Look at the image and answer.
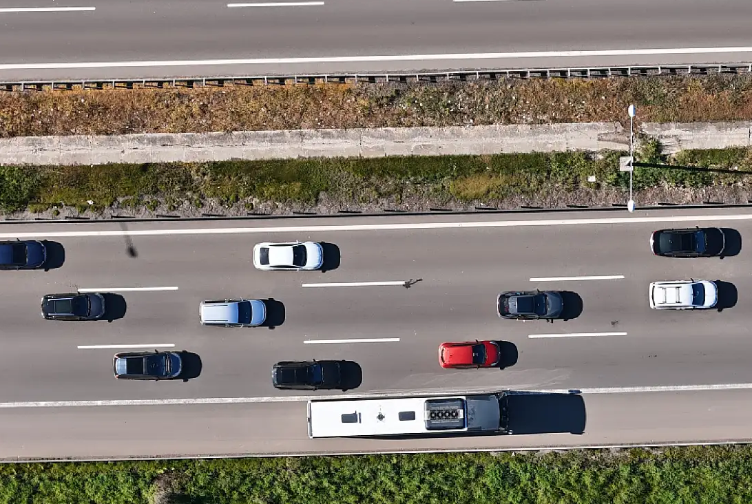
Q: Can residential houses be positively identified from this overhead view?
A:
No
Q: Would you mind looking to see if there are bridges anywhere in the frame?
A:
No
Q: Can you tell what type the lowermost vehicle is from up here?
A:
bus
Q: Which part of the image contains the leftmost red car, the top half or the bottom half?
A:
bottom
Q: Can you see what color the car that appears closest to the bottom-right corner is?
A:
white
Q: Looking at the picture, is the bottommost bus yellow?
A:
No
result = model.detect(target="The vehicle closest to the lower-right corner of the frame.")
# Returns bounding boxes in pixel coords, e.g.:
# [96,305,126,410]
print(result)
[649,277,718,312]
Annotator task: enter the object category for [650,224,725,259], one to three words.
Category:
car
